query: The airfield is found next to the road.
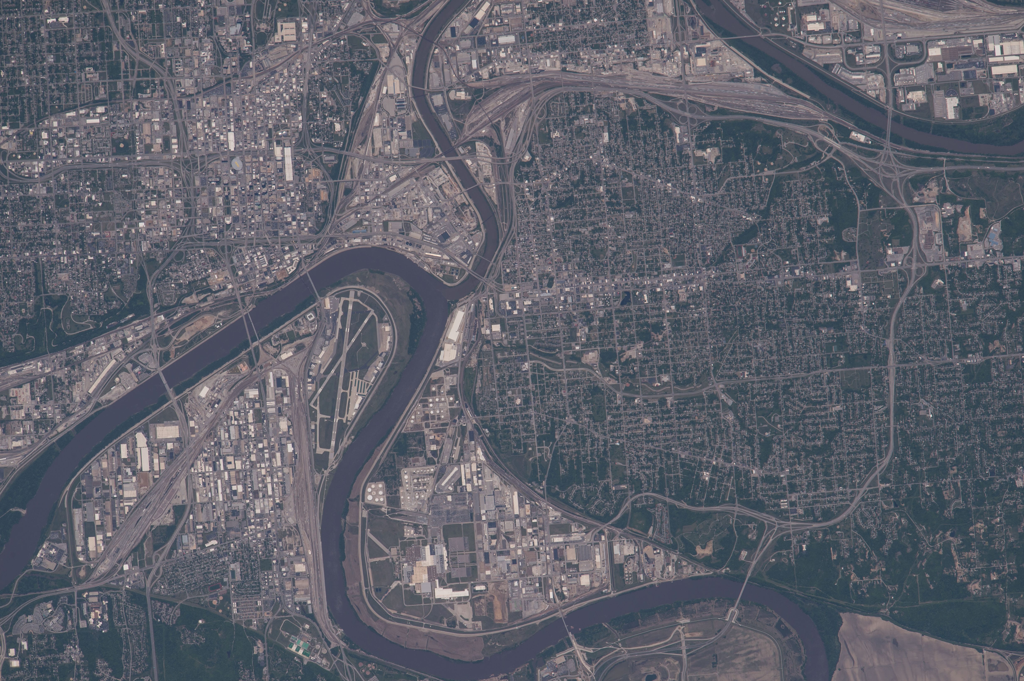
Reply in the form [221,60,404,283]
[310,287,396,459]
